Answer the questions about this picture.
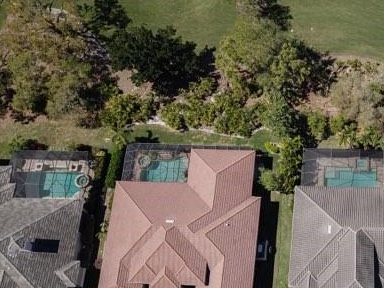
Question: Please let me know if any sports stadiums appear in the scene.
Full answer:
No, this view has no sports stadium in it.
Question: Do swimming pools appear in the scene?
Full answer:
Yes, a swimming pool appears in the view.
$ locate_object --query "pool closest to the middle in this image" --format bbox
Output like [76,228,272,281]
[132,155,190,183]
